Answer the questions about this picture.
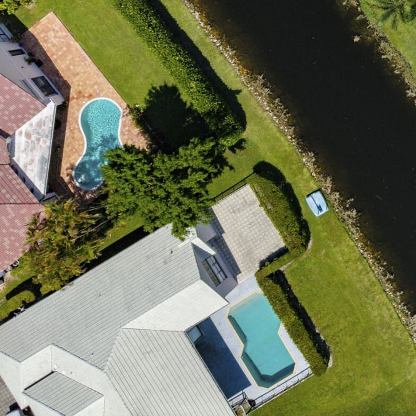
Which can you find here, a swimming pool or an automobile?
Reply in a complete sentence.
The one in the frame is a swimming pool.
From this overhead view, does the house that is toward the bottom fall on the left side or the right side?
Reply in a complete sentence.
It is on the left.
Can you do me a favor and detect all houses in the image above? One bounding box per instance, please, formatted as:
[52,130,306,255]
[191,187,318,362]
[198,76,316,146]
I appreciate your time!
[0,20,69,271]
[0,219,237,416]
